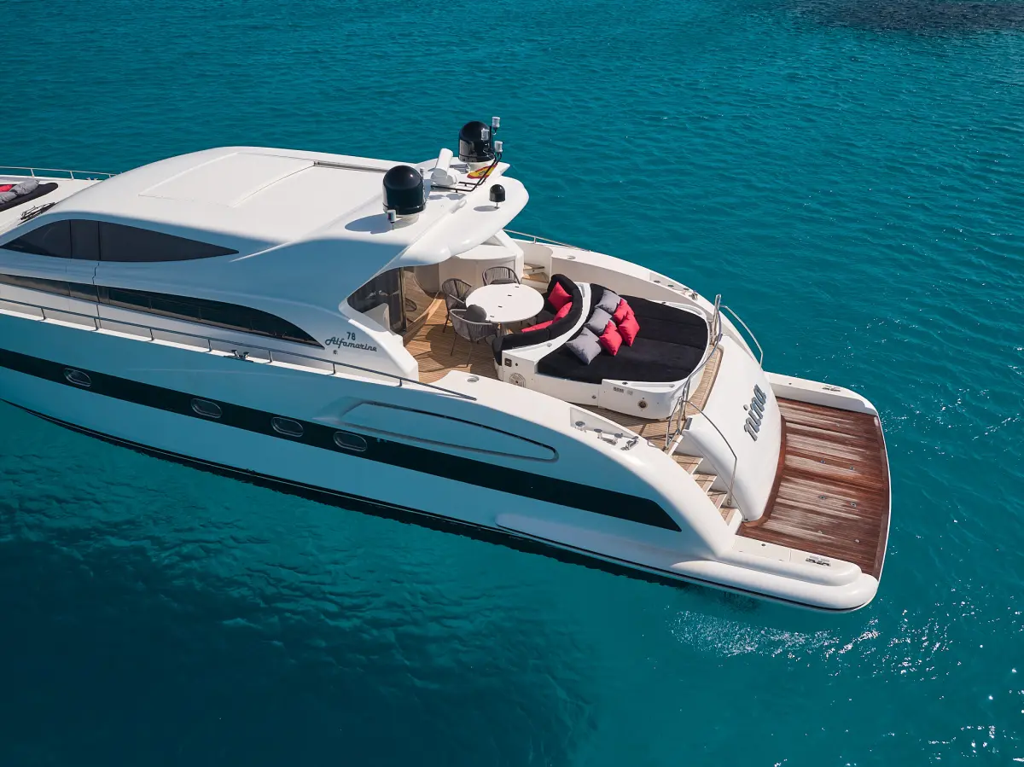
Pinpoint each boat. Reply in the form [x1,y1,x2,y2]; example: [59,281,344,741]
[0,120,891,620]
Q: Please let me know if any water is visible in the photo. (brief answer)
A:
Yes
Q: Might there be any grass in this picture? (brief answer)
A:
No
